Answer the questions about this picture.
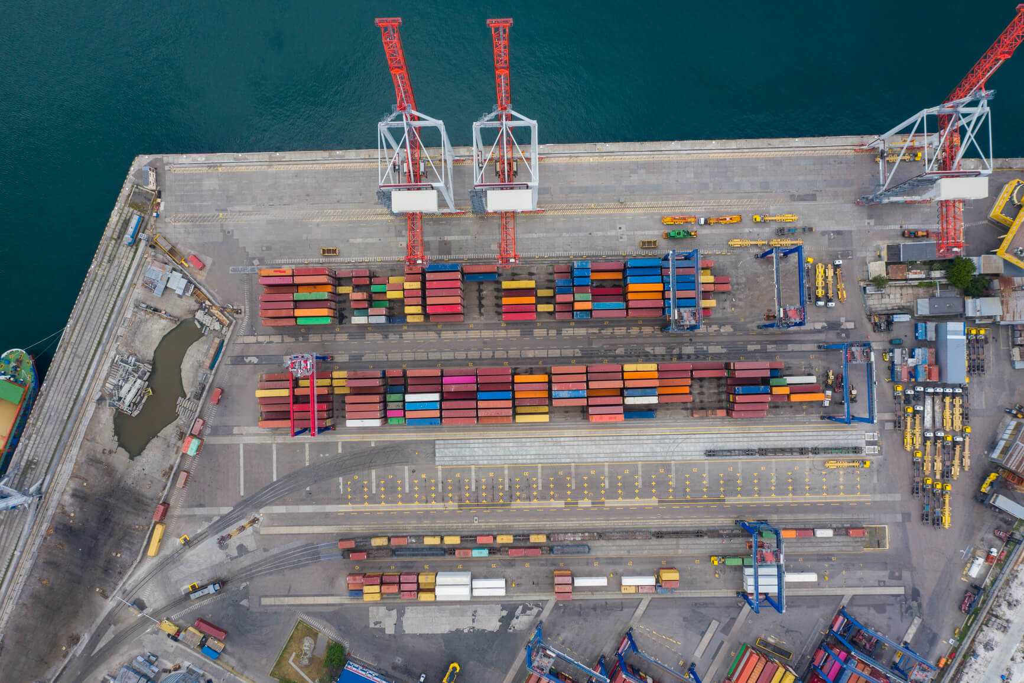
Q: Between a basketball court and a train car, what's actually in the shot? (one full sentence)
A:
The one in the frame is a train car.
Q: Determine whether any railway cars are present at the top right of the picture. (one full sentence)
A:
No, no railway car can be made out at the top right of the picture.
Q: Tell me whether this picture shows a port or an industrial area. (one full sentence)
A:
The picture captures a port.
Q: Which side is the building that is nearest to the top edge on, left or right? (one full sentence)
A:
You can find the building that is nearest to the top edge on the left side of the picture.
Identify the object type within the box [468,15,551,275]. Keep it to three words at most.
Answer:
container crane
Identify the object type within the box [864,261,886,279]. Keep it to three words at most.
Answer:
shed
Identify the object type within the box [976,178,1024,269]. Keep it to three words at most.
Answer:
crane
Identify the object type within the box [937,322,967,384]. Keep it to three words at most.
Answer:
building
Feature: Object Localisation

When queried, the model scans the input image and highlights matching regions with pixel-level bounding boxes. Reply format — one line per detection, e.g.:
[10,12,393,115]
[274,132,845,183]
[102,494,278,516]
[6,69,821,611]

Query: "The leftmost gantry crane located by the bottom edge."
[523,617,611,683]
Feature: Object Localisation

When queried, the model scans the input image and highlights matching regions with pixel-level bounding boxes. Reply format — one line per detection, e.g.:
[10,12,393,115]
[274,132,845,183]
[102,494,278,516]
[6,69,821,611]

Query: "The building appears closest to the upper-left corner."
[141,166,162,192]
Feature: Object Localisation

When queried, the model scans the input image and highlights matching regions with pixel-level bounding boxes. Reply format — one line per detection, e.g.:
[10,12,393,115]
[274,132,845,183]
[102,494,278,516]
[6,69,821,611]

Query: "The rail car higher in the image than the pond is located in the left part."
[117,214,142,246]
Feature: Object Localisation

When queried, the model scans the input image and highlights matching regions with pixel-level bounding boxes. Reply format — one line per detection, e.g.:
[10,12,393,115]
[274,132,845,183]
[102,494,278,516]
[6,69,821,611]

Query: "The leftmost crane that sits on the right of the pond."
[286,355,339,437]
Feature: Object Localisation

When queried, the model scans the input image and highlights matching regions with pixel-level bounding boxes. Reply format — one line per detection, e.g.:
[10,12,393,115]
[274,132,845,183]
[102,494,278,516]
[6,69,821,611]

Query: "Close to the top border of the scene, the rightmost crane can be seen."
[854,1,1024,263]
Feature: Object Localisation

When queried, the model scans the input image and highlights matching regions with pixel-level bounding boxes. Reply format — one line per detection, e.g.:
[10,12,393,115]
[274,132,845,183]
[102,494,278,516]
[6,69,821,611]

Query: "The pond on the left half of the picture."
[113,317,204,459]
